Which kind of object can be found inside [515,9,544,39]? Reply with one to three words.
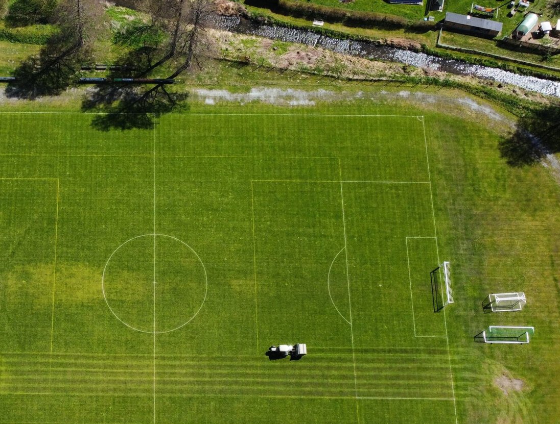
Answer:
greenhouse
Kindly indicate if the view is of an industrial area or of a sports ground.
sports ground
